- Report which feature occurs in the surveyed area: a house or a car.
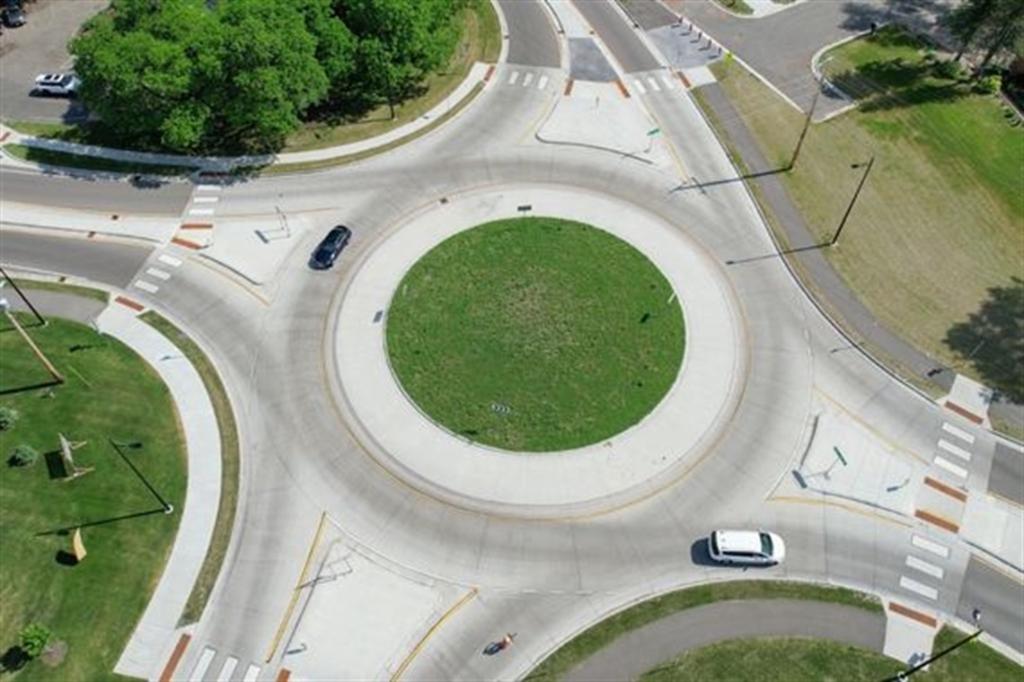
car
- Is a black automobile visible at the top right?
No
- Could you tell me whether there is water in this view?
No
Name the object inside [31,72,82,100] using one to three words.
car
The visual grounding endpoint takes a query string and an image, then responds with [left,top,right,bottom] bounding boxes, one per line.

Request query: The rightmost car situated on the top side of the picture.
[309,225,351,270]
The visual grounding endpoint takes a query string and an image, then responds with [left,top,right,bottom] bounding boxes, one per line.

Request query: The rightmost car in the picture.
[709,533,791,573]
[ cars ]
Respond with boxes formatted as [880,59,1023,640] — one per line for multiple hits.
[309,225,351,270]
[31,72,82,100]
[0,0,27,31]
[709,533,791,573]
